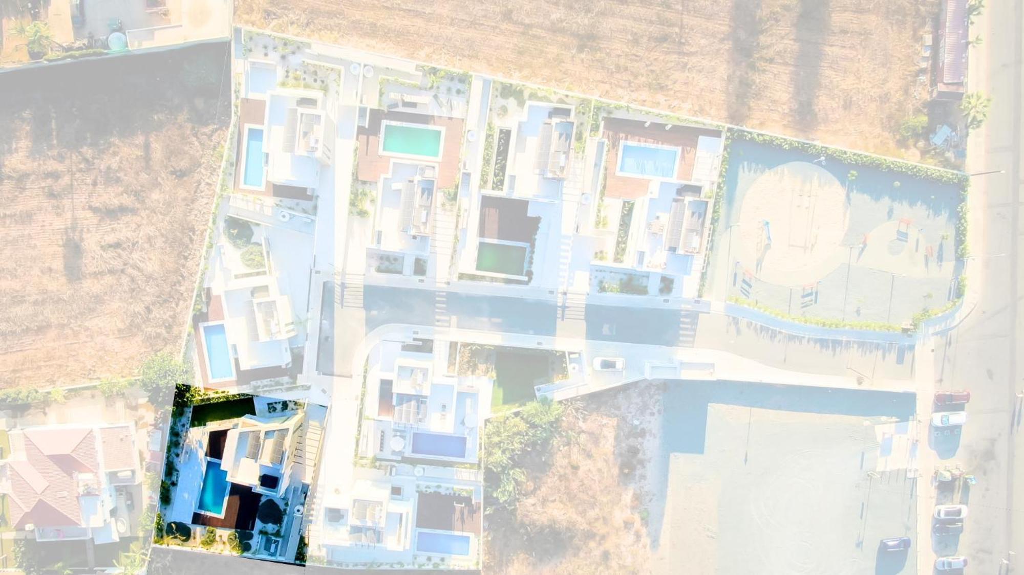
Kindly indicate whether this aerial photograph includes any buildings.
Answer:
Yes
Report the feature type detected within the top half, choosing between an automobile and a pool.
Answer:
pool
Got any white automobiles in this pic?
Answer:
Yes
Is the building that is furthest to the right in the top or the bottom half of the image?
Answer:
top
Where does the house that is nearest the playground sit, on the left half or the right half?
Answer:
right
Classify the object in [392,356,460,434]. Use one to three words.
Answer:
house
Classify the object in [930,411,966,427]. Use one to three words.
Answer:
car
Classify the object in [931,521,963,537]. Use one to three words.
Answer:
car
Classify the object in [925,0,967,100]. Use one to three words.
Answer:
building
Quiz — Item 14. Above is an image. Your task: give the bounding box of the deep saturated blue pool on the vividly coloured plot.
[194,459,229,518]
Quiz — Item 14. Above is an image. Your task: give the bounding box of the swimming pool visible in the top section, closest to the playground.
[616,142,680,180]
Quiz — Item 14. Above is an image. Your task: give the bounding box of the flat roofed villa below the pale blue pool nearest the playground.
[629,180,713,275]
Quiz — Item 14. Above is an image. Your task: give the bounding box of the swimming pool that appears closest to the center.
[473,239,530,278]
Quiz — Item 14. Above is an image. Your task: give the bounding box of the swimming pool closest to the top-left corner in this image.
[240,125,266,191]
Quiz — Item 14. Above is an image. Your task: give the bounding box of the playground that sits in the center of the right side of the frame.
[709,130,966,330]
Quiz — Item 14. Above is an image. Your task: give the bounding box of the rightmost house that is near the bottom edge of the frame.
[322,471,418,551]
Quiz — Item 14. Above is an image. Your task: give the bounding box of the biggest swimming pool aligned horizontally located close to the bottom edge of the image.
[413,529,473,559]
